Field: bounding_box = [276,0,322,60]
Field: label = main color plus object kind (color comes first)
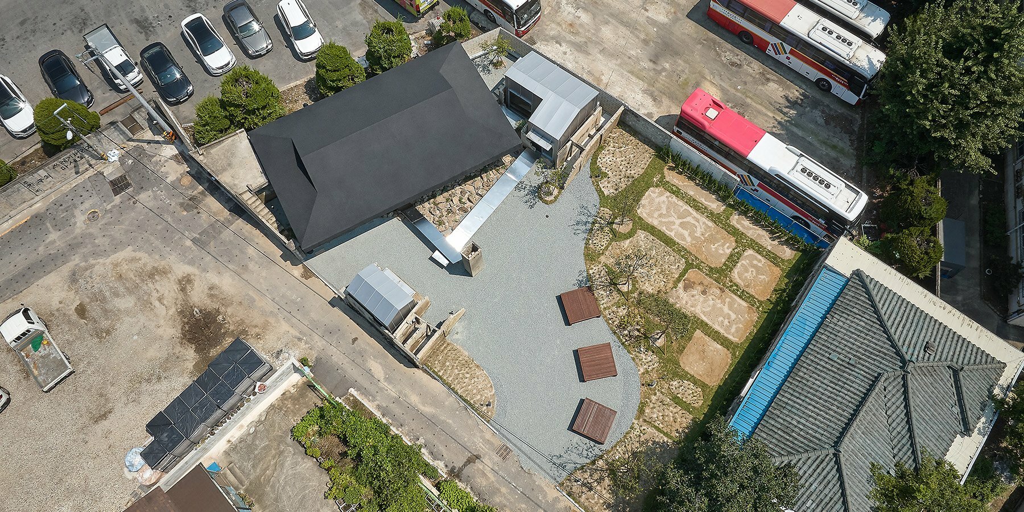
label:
white car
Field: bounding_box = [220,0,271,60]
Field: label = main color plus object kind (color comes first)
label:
gray car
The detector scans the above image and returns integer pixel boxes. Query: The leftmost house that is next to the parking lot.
[248,37,522,253]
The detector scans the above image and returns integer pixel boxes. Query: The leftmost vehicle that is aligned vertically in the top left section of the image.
[0,70,34,140]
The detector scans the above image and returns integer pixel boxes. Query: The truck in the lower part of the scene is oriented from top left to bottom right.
[0,303,68,388]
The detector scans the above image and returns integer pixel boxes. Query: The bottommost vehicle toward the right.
[672,87,870,238]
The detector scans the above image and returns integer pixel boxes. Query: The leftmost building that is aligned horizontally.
[123,461,240,512]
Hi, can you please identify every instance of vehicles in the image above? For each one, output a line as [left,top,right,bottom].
[220,0,271,60]
[136,38,191,109]
[469,0,538,29]
[0,303,68,388]
[0,70,34,140]
[794,0,895,48]
[704,0,881,105]
[672,87,870,238]
[276,0,322,60]
[179,9,235,78]
[37,42,93,105]
[77,16,143,93]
